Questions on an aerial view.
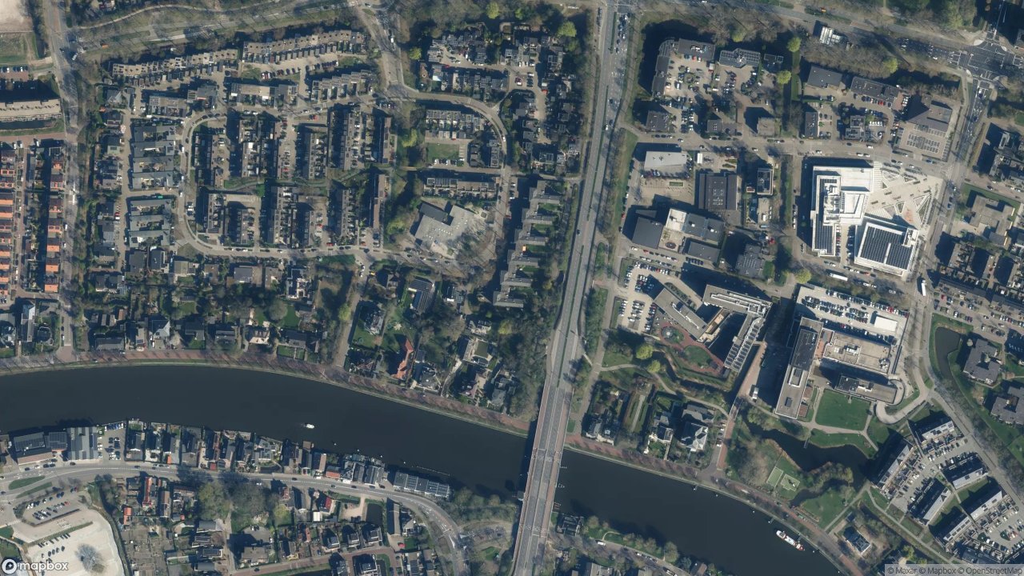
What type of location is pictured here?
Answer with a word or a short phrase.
residential area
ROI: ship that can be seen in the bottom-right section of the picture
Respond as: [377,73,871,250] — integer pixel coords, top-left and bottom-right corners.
[776,530,804,550]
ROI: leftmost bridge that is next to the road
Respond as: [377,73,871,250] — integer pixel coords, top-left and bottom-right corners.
[507,286,586,576]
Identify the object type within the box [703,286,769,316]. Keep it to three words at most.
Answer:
building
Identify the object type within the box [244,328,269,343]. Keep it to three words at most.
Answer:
house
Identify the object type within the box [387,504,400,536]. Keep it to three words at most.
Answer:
barn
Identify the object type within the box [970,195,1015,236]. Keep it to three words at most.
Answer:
building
